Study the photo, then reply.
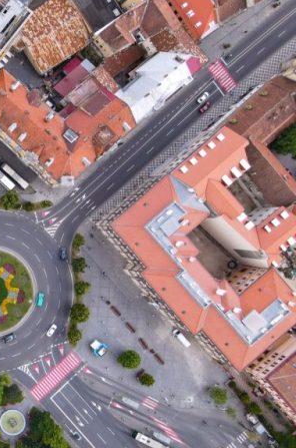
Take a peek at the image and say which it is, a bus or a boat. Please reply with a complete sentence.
This aerial view contains a bus.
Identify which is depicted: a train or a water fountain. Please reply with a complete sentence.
This aerial view contains a water fountain.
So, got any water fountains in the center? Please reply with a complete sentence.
No, I see no water fountain in the center.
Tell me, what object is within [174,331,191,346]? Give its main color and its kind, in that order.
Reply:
white vehicle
